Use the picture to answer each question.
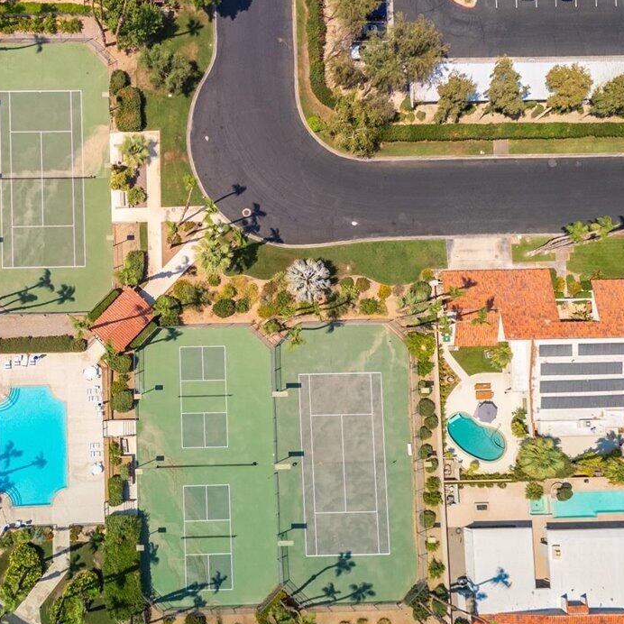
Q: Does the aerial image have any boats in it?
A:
No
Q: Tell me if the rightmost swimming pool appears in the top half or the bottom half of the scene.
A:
bottom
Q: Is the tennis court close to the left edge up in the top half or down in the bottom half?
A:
top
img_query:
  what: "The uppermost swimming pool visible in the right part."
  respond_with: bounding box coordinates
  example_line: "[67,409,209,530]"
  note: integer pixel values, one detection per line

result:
[448,409,509,464]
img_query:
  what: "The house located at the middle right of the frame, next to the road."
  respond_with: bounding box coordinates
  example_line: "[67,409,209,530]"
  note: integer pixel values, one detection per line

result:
[440,269,624,437]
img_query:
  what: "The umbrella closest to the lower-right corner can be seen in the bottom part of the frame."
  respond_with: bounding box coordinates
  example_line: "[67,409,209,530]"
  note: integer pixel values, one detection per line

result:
[475,400,498,424]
